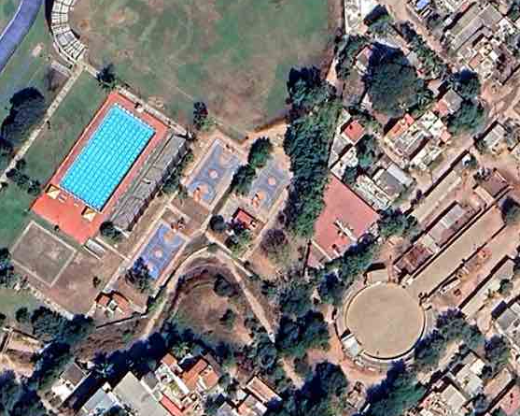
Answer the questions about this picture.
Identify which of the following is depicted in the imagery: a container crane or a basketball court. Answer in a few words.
basketball court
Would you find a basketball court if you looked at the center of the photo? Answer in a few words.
Yes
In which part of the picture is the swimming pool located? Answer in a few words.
left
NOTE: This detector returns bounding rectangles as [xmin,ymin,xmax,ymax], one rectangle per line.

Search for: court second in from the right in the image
[237,147,298,223]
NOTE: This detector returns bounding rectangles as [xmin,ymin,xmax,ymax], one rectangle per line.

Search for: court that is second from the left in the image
[126,213,194,289]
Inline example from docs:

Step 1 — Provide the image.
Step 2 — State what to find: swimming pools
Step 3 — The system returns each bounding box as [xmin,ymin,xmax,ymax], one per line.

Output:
[30,90,167,244]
